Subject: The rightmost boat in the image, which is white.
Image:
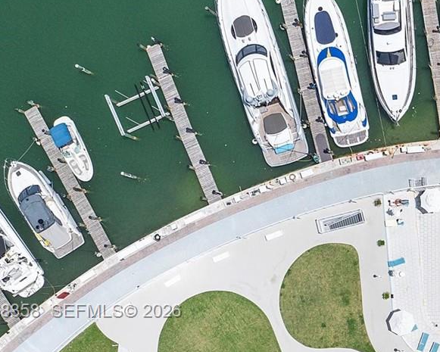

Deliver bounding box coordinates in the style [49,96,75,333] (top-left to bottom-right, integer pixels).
[368,0,420,125]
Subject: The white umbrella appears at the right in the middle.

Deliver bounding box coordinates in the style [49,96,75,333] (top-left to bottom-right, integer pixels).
[420,187,440,214]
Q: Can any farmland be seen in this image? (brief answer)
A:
No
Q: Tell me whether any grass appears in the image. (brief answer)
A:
Yes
